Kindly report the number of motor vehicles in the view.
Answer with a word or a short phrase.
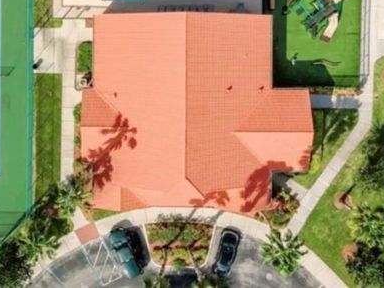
2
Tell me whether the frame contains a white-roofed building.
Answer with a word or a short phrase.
No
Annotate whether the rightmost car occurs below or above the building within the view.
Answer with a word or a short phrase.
below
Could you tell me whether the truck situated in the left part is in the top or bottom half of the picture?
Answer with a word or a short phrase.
bottom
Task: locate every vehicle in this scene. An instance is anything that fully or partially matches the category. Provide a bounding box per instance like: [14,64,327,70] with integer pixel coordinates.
[109,227,142,279]
[217,230,241,275]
